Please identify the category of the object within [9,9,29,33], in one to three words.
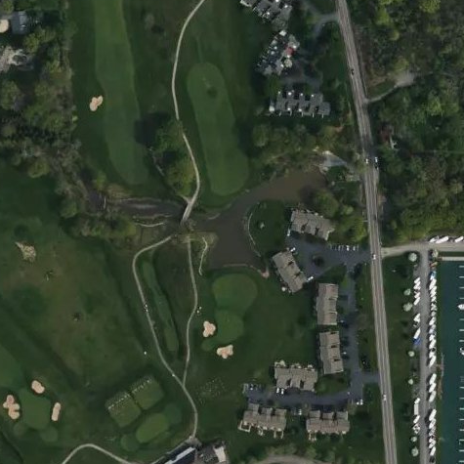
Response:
house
